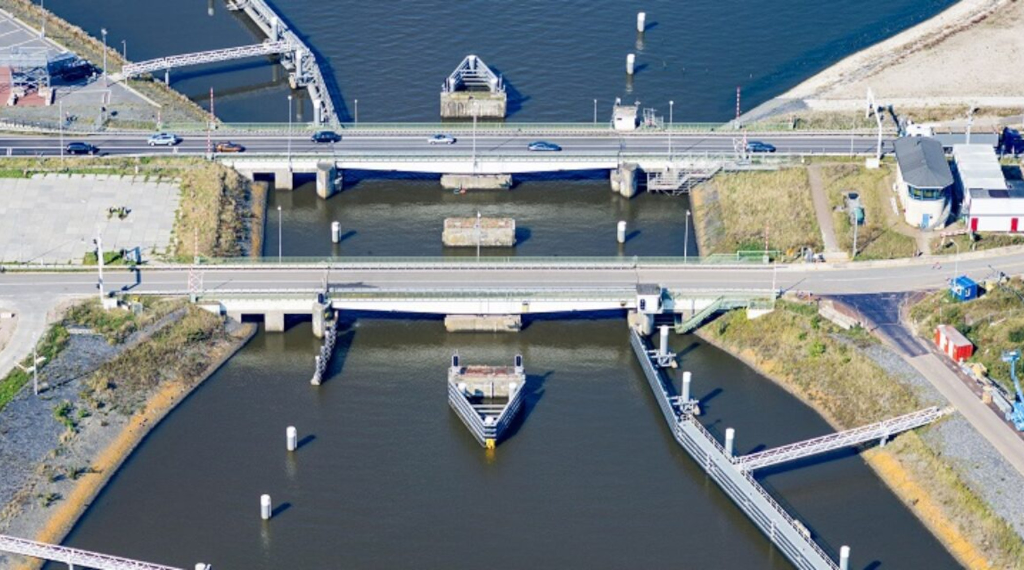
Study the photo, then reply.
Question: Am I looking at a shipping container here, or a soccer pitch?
shipping container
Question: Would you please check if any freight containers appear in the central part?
No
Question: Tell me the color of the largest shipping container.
white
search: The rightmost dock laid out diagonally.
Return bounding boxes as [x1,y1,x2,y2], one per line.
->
[676,411,859,570]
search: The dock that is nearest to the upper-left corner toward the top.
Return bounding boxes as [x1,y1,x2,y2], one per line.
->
[224,0,342,126]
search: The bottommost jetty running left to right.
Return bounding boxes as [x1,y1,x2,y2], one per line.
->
[448,366,525,396]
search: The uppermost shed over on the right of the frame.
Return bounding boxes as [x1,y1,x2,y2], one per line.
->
[610,87,645,126]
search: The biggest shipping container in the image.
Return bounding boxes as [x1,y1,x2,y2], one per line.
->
[931,321,972,361]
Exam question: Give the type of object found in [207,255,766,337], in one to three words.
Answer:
bridge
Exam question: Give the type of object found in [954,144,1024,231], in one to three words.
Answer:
building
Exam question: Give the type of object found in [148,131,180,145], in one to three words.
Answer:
car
